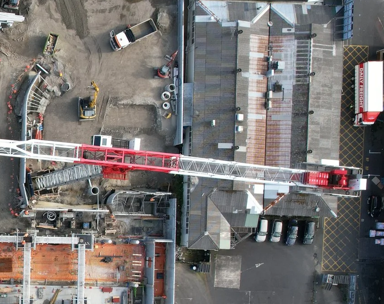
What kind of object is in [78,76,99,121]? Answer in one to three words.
work vehicle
